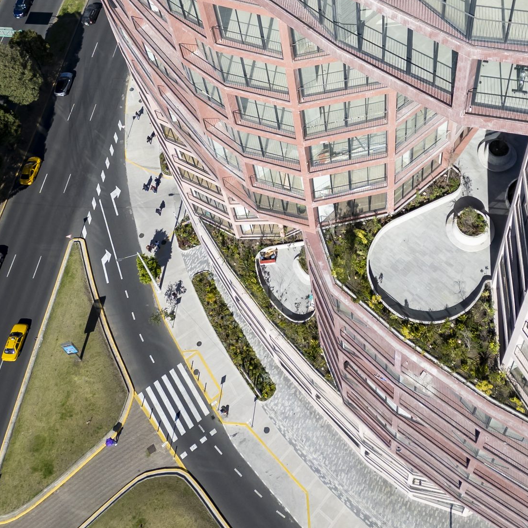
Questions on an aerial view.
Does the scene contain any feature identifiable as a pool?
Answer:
No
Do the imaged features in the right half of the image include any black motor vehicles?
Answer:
No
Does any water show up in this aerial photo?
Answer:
No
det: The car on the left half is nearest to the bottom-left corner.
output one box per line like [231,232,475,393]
[0,323,30,362]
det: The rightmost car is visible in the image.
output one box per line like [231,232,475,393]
[79,2,99,22]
